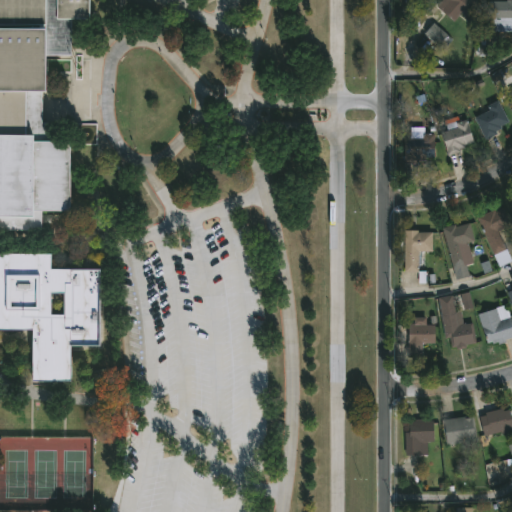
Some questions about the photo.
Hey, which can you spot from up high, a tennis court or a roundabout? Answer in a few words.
tennis court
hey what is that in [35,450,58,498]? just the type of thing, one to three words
tennis court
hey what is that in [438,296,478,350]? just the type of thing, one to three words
house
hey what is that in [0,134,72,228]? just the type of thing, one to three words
building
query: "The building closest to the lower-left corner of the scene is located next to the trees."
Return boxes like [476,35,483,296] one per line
[0,253,100,380]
